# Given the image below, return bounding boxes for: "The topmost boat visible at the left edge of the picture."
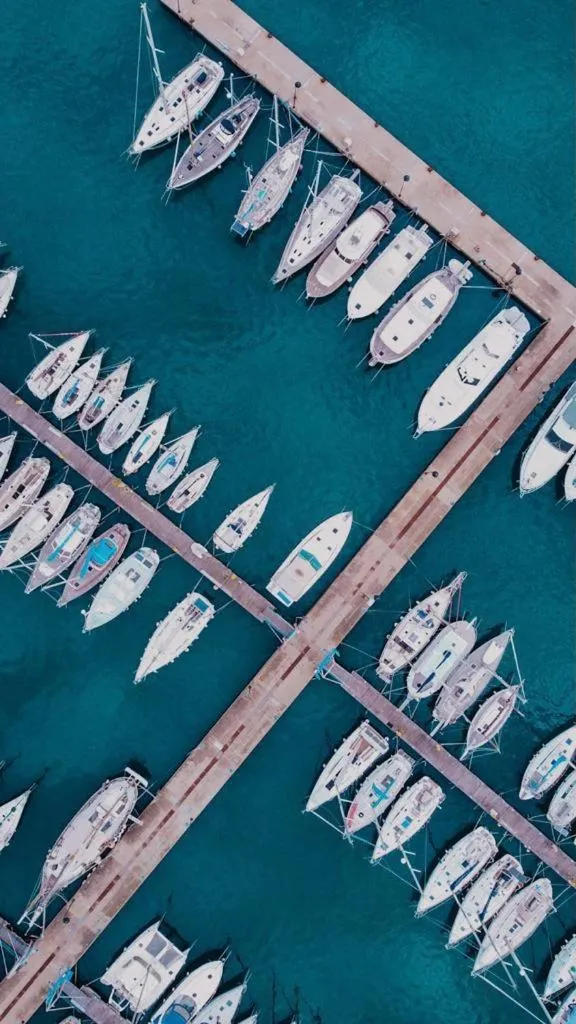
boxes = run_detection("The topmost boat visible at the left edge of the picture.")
[0,264,28,313]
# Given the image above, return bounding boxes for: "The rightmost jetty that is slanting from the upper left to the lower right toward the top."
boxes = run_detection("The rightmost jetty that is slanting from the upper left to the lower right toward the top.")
[154,0,576,342]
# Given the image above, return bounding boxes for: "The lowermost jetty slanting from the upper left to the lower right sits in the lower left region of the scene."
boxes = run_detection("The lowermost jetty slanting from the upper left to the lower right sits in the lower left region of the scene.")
[71,985,130,1024]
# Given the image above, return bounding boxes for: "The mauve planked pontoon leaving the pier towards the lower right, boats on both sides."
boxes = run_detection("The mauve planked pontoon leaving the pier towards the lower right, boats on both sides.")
[341,670,576,888]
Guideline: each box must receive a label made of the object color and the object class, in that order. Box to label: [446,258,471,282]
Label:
white boat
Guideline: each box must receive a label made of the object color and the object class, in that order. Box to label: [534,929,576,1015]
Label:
white boat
